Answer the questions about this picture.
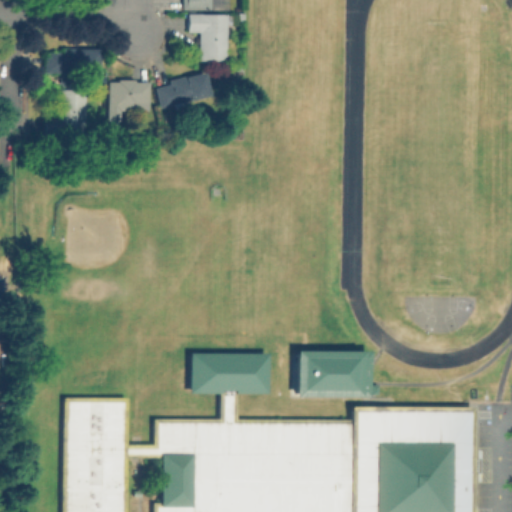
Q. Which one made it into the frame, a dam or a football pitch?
football pitch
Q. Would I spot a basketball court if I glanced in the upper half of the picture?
No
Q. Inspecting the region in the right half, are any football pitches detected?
Yes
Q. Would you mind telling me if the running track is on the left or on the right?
right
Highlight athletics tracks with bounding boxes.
[342,0,512,368]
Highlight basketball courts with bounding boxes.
[405,297,476,334]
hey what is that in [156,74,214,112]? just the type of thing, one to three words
house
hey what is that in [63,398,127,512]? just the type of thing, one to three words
building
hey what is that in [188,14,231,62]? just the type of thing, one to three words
house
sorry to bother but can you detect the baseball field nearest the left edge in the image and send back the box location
[66,206,130,270]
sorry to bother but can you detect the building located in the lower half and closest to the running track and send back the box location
[300,352,378,398]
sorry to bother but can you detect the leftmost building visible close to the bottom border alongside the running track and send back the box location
[152,420,354,512]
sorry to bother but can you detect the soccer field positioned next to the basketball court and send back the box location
[372,16,507,284]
